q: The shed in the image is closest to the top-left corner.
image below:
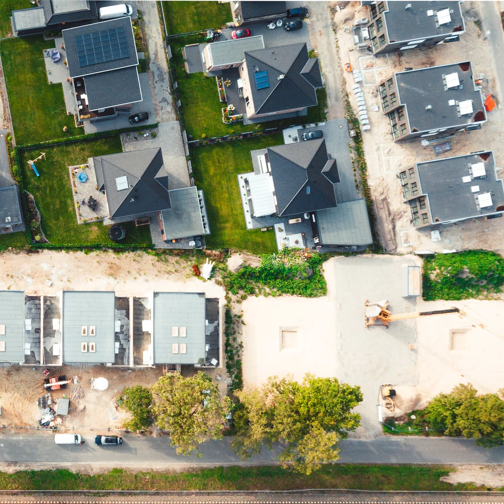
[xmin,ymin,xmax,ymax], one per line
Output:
[12,7,47,37]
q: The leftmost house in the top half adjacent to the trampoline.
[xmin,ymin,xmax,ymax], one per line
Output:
[94,148,172,218]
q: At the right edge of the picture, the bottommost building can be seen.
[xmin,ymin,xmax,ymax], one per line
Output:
[398,151,504,228]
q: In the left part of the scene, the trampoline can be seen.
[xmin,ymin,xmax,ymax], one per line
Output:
[110,224,127,240]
